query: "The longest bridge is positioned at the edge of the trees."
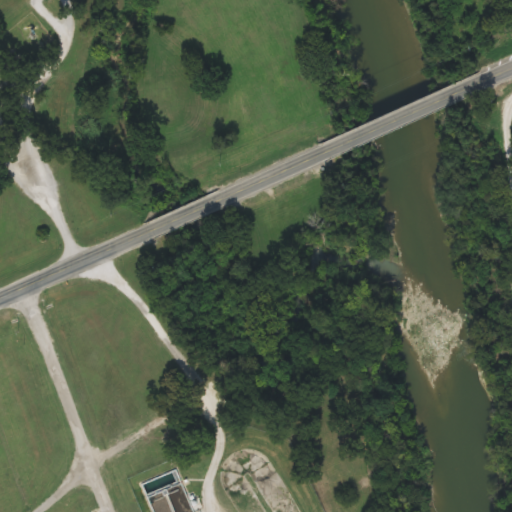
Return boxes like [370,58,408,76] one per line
[318,74,482,162]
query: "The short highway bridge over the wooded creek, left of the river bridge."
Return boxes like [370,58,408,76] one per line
[143,191,222,240]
